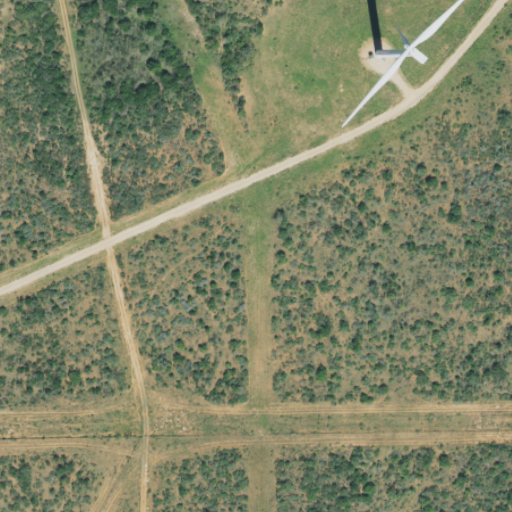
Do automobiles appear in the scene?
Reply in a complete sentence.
No, no automobile is visible in the scene.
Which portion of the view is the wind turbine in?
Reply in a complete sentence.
You can find the wind turbine in the top right area of the picture.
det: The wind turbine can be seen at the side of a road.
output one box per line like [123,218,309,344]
[343,0,464,126]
